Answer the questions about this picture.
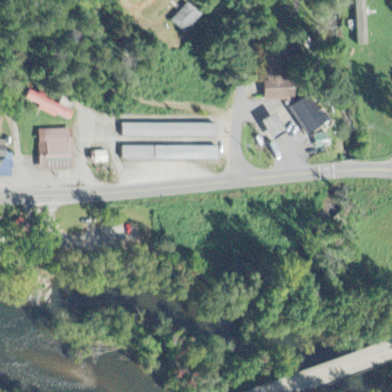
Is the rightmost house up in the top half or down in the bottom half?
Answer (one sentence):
Seen from above, the rightmost house lies in the top half of the view.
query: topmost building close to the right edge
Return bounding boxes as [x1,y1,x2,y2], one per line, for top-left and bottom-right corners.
[356,0,378,45]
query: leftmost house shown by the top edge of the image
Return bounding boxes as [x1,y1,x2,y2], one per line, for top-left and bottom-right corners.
[172,0,202,31]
